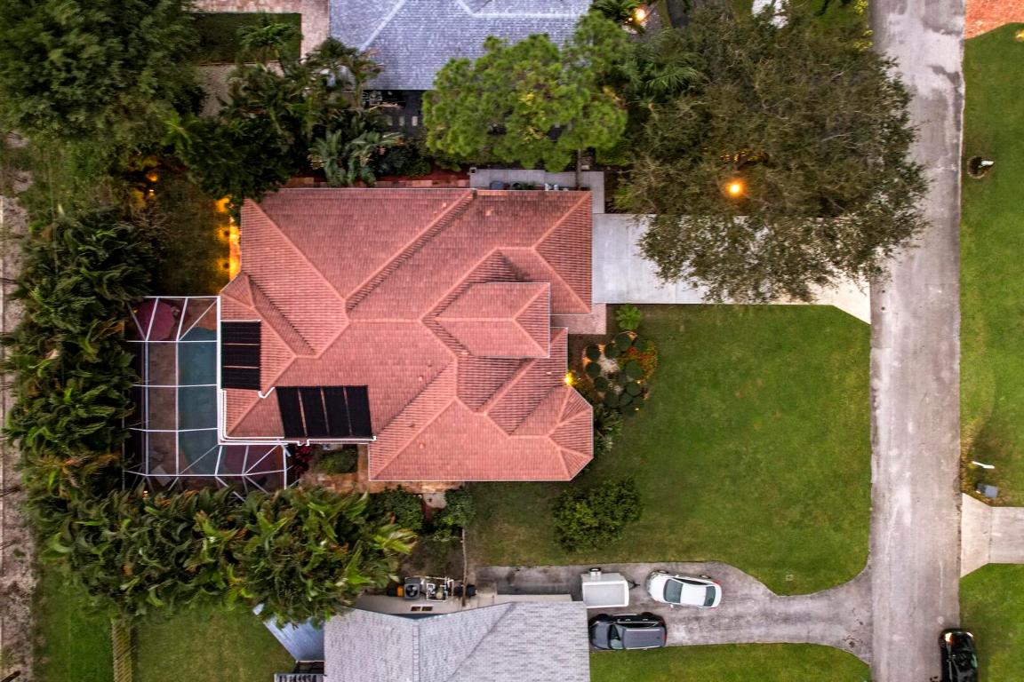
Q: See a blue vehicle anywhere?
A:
No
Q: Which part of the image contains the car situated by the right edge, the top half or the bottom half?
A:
bottom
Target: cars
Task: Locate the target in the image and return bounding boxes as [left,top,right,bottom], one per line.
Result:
[590,612,665,652]
[939,629,980,682]
[646,571,723,609]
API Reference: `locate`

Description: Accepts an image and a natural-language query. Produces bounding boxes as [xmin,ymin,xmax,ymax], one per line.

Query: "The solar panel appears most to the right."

[276,385,371,439]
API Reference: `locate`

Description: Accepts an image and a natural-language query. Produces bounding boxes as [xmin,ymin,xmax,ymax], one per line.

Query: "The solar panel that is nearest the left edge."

[221,324,260,388]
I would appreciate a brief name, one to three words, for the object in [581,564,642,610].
trailer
